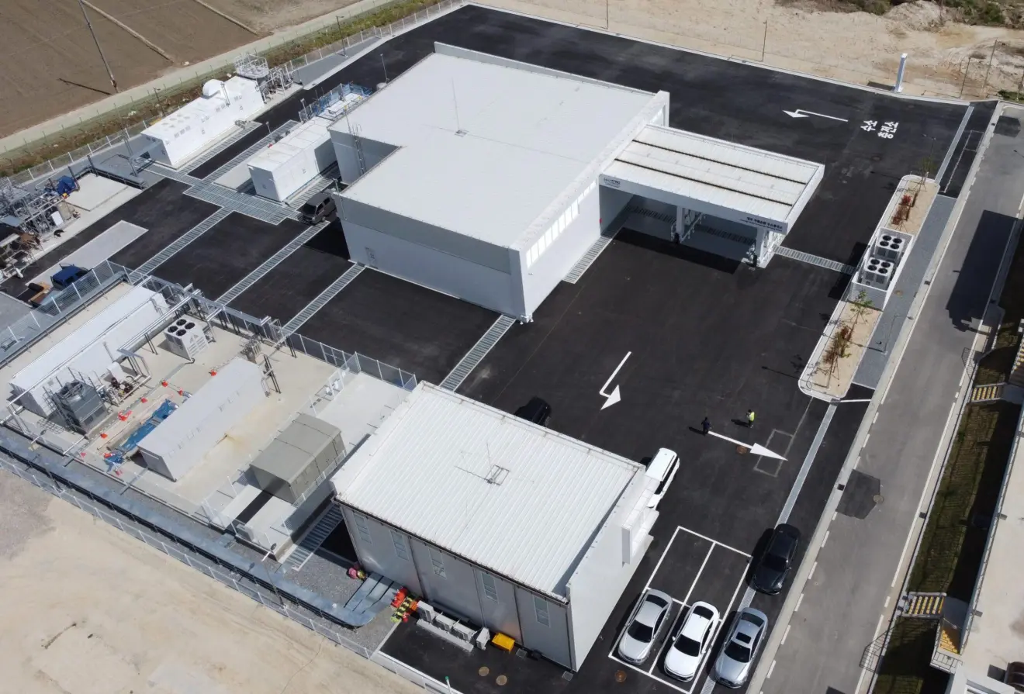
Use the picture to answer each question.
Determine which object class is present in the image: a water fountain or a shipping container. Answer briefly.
shipping container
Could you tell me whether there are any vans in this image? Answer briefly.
Yes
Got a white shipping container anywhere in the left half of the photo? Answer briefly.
Yes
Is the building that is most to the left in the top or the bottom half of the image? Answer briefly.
top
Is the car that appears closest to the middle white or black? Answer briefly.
black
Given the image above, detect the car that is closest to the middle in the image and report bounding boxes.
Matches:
[521,397,558,426]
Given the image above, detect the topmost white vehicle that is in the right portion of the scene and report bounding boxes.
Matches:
[649,446,683,510]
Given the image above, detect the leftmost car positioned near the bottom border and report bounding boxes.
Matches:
[615,589,673,668]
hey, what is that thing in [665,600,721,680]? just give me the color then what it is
white car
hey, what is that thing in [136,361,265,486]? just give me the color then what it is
white shipping container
